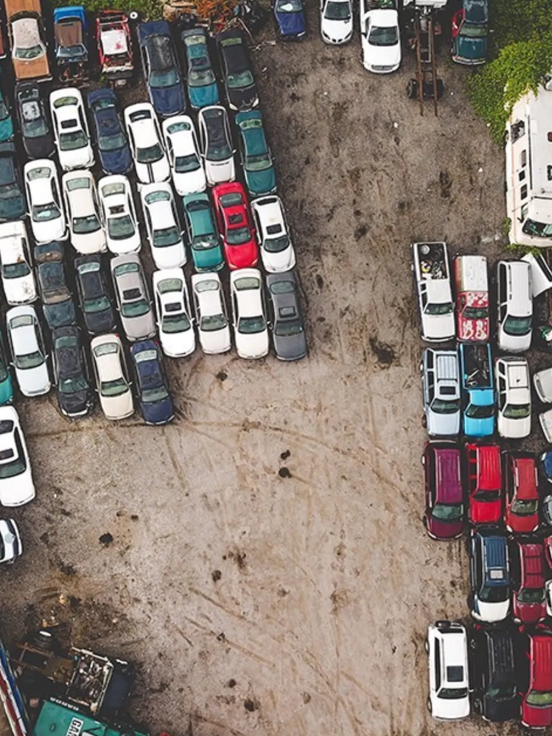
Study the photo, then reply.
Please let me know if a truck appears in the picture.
Yes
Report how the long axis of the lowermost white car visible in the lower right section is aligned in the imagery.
from top to bottom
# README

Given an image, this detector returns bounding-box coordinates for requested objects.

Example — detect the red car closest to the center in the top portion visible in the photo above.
[215,179,259,271]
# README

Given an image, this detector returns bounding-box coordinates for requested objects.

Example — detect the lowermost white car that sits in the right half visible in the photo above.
[424,617,470,722]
